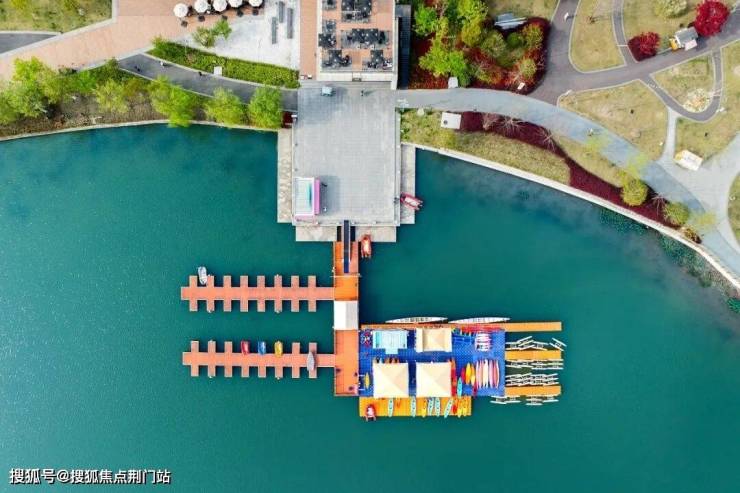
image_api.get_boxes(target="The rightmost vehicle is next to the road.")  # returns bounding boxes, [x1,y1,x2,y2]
[663,28,699,51]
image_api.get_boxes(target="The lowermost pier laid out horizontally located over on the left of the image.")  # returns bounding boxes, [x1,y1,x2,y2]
[182,340,333,377]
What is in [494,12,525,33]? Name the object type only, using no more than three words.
shed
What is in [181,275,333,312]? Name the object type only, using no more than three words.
pier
